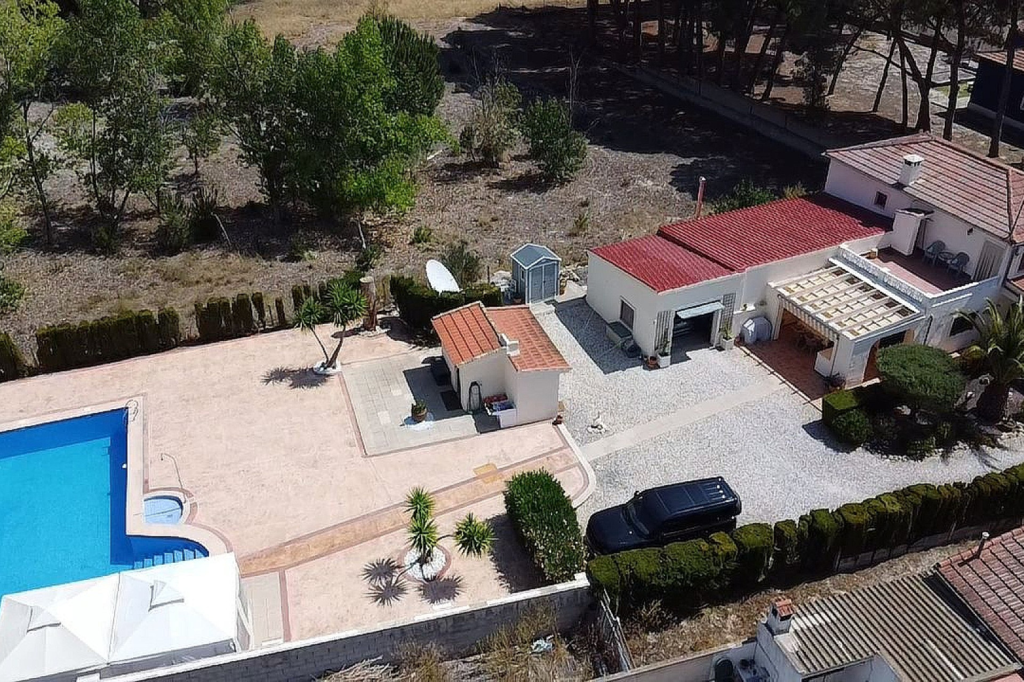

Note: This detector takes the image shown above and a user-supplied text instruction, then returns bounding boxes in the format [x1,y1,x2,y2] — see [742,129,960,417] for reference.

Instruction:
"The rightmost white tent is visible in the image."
[119,553,256,682]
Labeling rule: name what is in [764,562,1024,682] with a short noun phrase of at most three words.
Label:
shed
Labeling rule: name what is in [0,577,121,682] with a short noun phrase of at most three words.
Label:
tent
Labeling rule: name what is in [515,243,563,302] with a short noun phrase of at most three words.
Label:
shed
